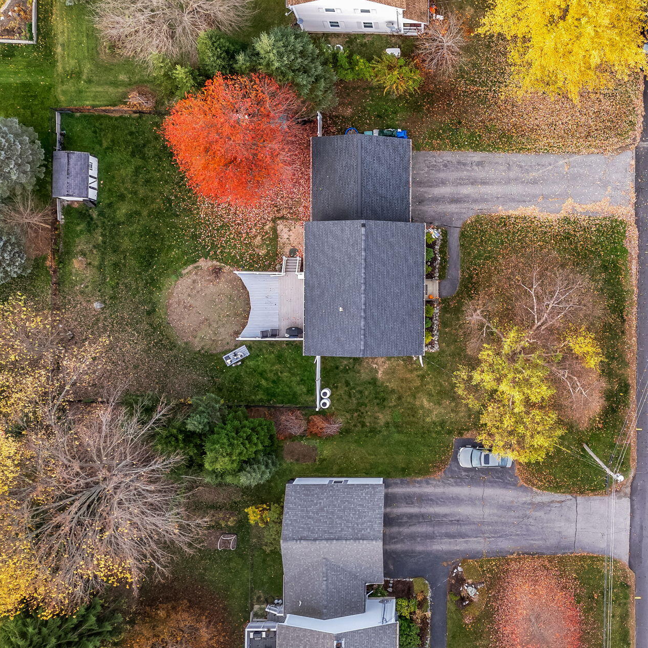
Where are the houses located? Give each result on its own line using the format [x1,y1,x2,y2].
[275,478,400,648]
[278,0,432,36]
[301,134,439,367]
